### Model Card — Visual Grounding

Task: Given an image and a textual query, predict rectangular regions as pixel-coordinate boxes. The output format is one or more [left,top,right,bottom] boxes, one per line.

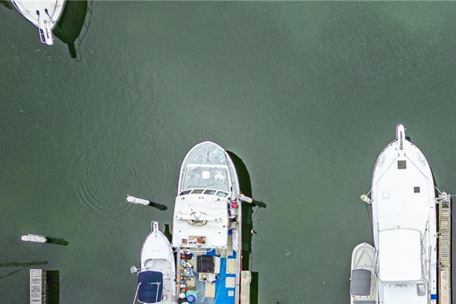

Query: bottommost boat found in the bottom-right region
[349,243,377,304]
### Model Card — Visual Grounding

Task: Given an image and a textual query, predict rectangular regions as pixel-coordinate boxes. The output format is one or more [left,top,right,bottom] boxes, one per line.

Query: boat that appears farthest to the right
[371,123,438,304]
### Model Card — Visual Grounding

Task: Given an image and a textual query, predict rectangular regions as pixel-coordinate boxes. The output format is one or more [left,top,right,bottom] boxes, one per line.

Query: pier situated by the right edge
[439,197,452,304]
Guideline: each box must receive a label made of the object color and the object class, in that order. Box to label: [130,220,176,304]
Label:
white boat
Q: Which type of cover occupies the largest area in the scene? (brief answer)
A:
water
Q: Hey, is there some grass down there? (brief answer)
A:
No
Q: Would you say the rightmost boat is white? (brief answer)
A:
Yes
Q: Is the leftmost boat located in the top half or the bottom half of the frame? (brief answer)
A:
top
